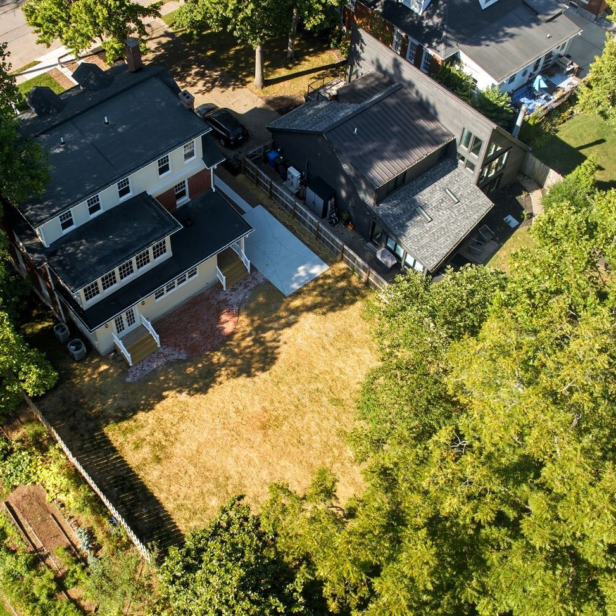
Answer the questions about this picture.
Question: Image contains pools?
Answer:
No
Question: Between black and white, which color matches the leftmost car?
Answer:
black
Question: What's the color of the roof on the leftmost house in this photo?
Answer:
black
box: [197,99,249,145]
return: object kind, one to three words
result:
car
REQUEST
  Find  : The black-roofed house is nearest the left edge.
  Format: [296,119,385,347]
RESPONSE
[0,40,266,367]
